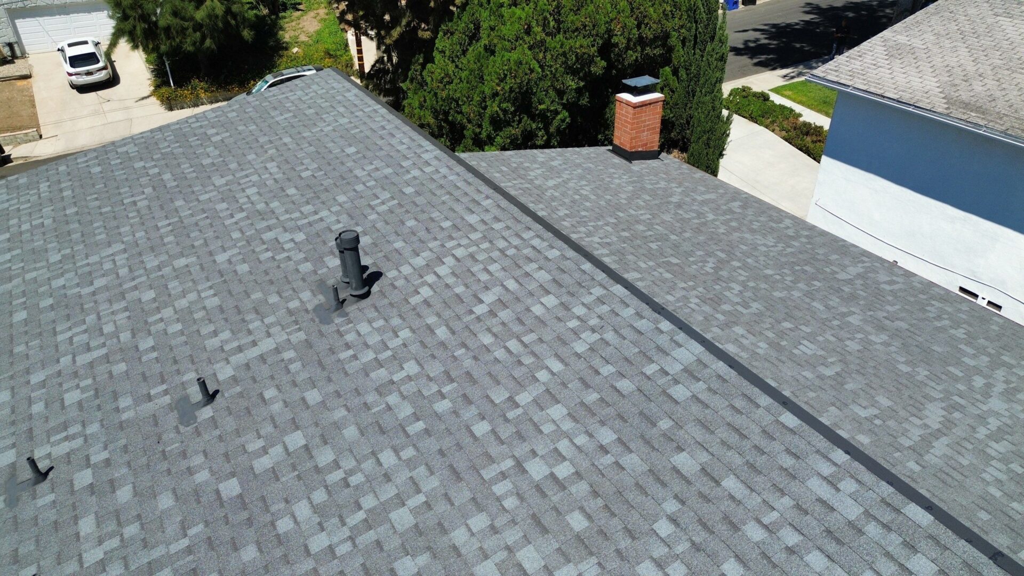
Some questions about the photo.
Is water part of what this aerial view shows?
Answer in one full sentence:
No, the picture contains no water.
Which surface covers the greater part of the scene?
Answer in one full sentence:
For the most part, this view shows buildings.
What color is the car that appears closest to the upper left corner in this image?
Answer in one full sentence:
The car that appears closest to the upper left corner looks white in the image.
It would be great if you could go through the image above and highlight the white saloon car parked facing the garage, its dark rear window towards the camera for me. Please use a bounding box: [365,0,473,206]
[45,38,109,88]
